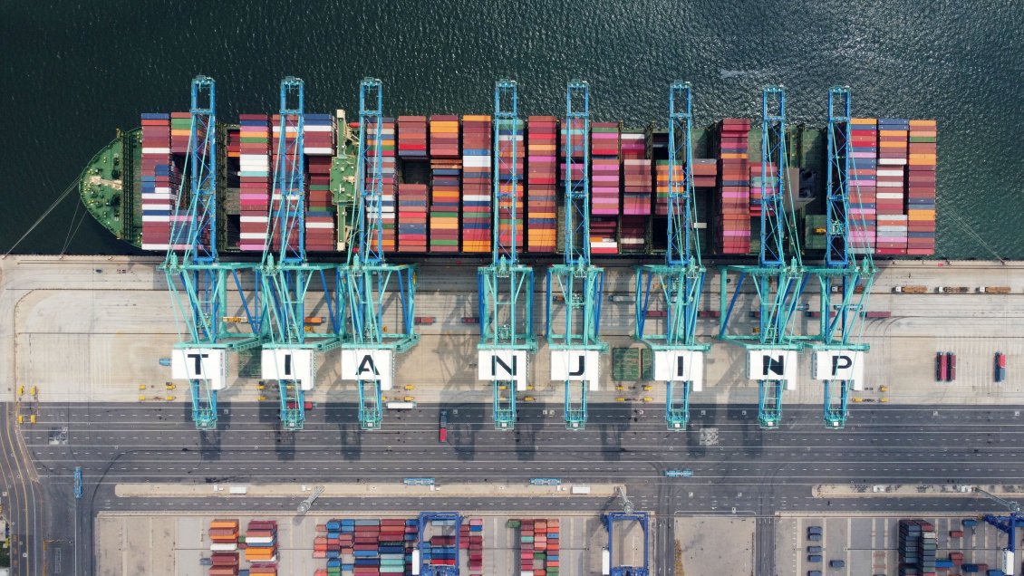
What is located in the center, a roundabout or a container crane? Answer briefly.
container crane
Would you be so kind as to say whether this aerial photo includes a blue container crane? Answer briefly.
Yes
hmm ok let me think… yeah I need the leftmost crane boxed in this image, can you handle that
[157,74,281,429]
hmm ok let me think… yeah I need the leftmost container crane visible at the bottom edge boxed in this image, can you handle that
[412,511,467,576]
